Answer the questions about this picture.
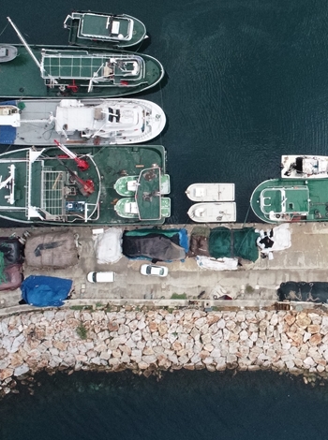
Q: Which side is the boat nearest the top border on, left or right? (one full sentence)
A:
The boat nearest the top border is on the left side of the image.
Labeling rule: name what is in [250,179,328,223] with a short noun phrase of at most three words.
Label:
boat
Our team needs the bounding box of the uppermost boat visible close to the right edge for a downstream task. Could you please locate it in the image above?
[279,156,328,178]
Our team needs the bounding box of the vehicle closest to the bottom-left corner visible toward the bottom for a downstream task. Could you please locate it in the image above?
[88,270,116,283]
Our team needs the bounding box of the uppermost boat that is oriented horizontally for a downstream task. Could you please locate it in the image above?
[65,11,148,46]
